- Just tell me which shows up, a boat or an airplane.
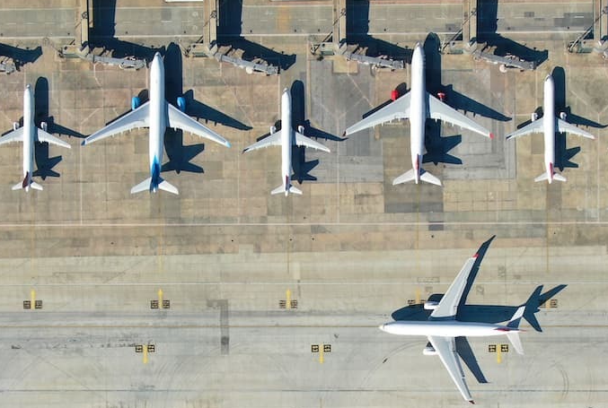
airplane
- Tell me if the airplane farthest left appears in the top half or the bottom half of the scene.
top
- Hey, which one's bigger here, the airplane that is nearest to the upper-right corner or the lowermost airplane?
the lowermost airplane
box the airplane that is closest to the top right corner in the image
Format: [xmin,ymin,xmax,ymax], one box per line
[508,74,593,181]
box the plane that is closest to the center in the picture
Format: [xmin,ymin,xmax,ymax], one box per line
[243,88,329,195]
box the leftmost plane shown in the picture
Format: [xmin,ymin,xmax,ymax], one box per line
[0,85,69,192]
